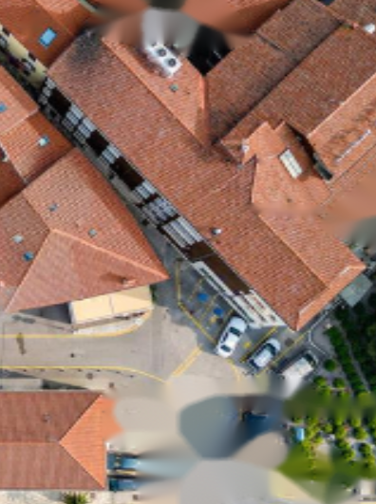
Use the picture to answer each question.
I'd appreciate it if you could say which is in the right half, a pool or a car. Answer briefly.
car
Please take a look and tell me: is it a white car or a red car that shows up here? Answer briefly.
white car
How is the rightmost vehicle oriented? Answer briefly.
at an angle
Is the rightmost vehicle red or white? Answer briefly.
white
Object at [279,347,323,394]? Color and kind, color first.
white vehicle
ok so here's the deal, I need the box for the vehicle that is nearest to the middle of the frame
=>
[216,317,248,356]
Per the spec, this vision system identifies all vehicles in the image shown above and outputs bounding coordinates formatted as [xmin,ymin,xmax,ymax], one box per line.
[216,317,248,356]
[108,455,149,476]
[248,334,283,372]
[279,347,323,394]
[108,474,149,495]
